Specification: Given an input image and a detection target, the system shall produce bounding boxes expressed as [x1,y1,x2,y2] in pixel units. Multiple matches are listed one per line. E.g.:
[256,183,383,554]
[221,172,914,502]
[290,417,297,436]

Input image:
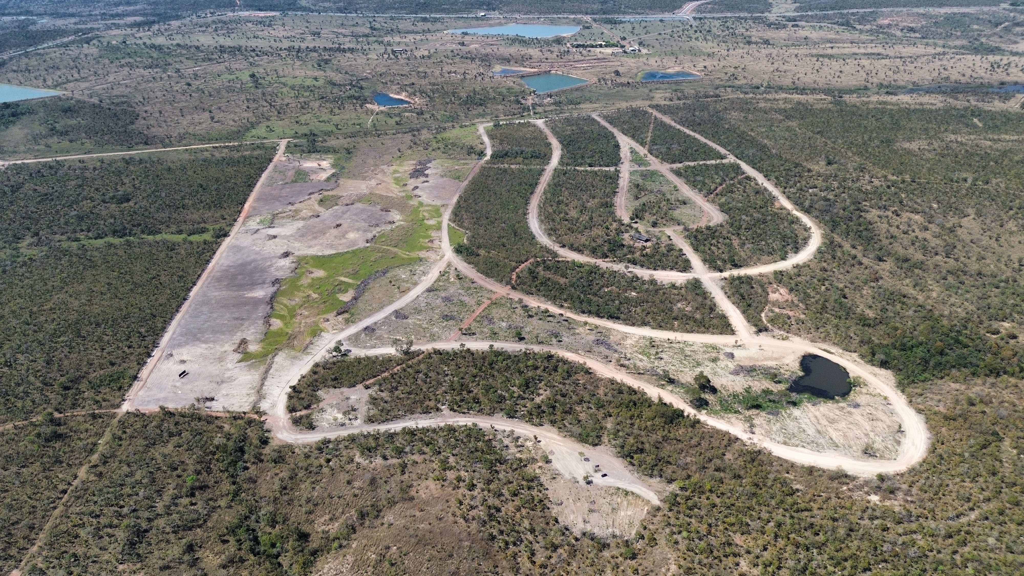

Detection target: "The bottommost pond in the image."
[788,354,852,399]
